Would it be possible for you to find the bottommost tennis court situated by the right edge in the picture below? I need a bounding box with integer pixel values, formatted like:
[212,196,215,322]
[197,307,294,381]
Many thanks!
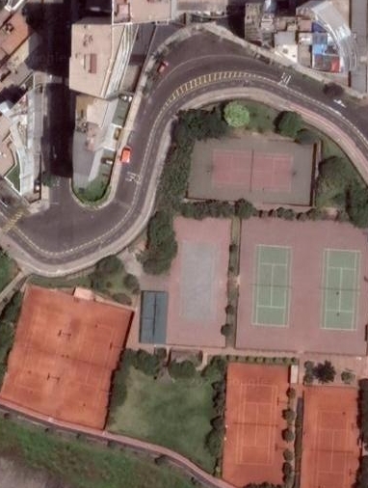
[299,385,357,488]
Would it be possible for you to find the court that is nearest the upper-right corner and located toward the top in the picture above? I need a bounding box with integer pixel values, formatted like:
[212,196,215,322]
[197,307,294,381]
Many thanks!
[187,138,312,207]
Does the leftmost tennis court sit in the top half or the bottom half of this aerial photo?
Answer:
bottom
